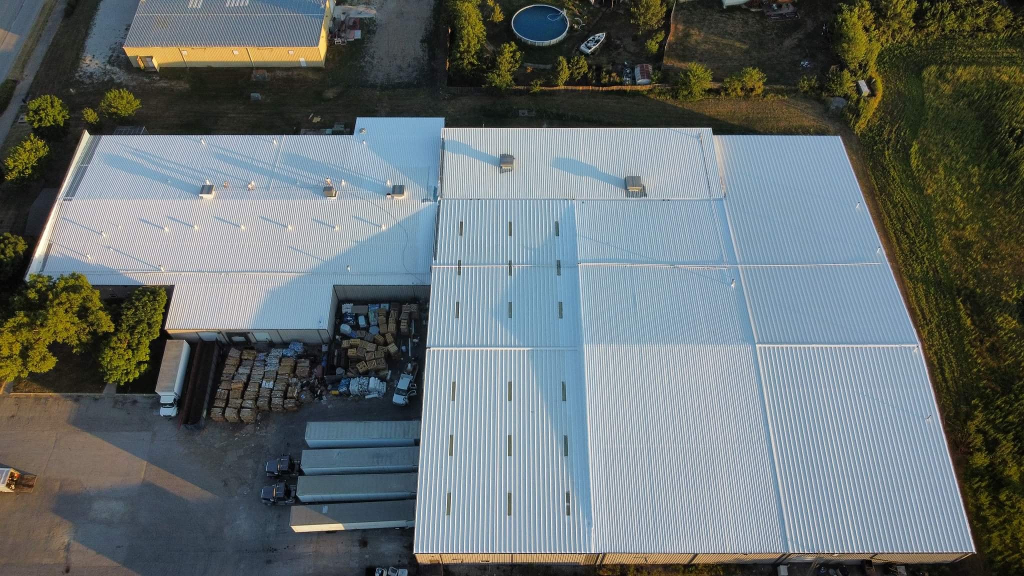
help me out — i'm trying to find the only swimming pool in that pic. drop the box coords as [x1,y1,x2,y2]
[512,5,569,47]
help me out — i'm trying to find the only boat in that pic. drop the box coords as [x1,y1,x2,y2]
[580,31,606,53]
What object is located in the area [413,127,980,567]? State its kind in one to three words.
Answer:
warehouse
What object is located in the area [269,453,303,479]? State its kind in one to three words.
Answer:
truck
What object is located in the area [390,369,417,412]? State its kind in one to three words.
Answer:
truck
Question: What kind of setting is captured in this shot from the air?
industrial area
